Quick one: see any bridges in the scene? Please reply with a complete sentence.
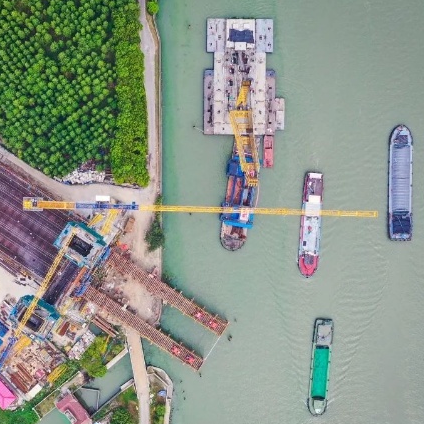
Yes, the photo shows a bridge.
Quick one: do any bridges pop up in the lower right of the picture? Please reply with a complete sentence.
No, I see no bridge in the lower right of the picture.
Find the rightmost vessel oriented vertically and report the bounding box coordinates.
[388,124,413,241]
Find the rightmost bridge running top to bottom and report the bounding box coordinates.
[125,332,150,399]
